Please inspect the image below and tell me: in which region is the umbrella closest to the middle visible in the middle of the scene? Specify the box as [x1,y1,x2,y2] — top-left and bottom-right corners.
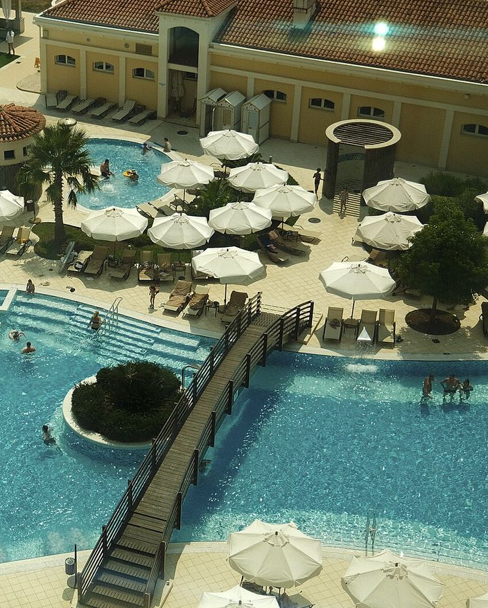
[189,249,263,312]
